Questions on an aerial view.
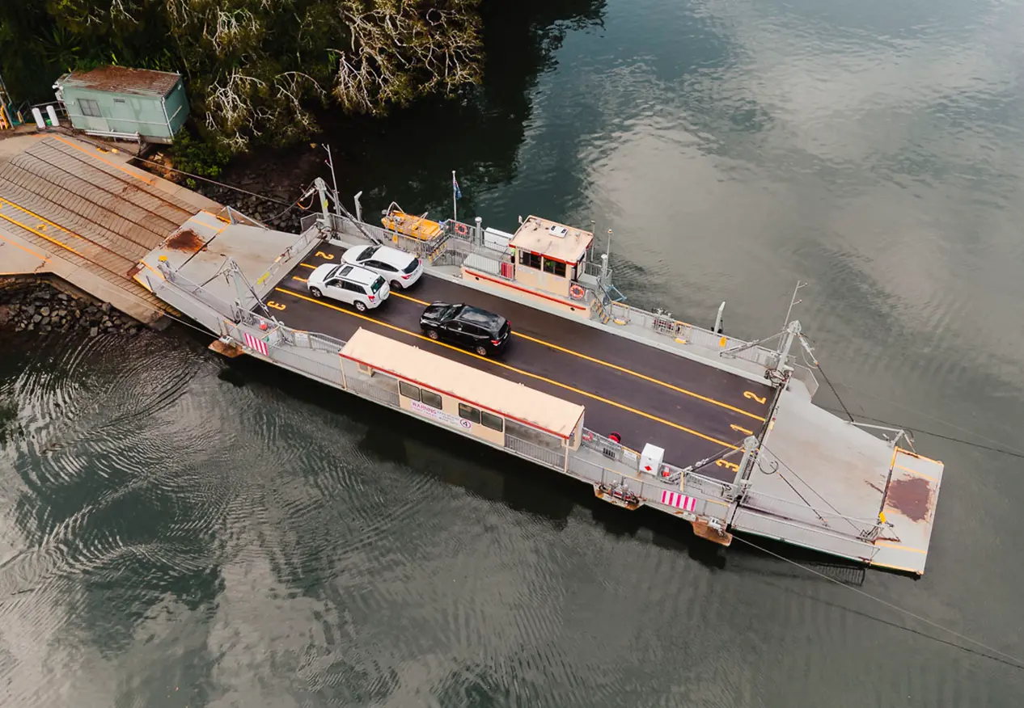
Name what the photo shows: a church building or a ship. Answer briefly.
ship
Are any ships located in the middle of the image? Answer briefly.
Yes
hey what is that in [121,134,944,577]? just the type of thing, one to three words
ship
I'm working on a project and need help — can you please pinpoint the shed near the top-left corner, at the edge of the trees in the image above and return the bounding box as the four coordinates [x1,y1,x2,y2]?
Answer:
[55,62,189,142]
